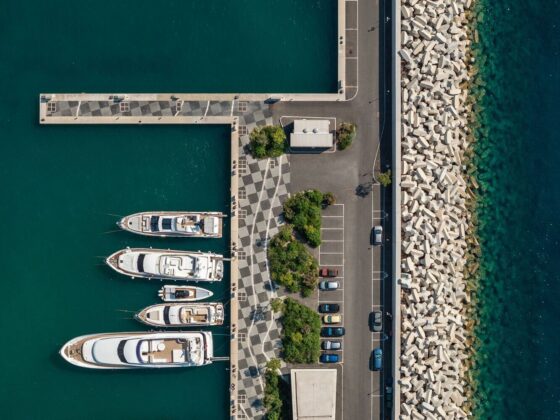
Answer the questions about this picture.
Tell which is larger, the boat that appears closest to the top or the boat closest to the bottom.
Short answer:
the boat closest to the bottom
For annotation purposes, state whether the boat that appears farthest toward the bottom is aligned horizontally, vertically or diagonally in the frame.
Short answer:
horizontally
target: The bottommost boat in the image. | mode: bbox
[60,327,232,370]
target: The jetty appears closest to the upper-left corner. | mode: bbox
[40,94,231,124]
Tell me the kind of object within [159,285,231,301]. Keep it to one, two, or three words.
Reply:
boat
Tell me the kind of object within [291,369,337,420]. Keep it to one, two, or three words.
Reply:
building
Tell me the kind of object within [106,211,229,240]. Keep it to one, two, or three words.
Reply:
boat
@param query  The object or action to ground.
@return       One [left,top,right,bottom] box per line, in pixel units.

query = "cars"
[318,304,340,314]
[321,341,341,351]
[320,268,339,277]
[374,225,383,244]
[374,311,383,331]
[320,326,345,337]
[323,316,341,325]
[320,281,341,290]
[319,353,340,363]
[374,348,383,370]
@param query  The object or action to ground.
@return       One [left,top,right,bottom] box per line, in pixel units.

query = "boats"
[159,285,231,301]
[106,211,229,240]
[118,296,233,328]
[216,305,223,319]
[60,327,232,370]
[98,247,232,282]
[215,260,223,278]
